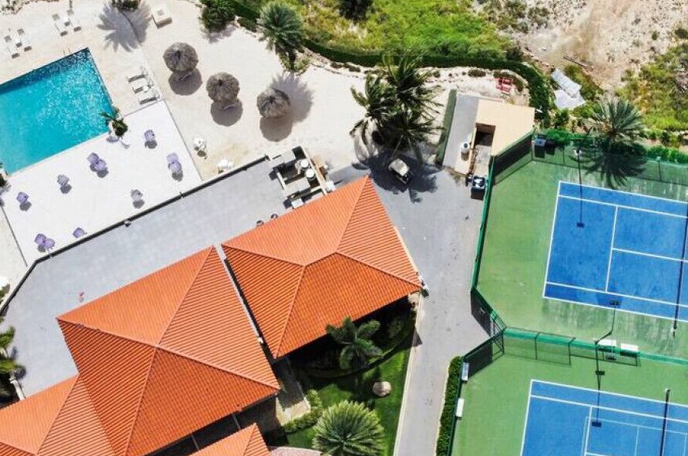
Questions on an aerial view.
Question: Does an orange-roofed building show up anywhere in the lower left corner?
Yes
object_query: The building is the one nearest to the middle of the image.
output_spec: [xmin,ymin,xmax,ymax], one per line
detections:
[220,176,424,357]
